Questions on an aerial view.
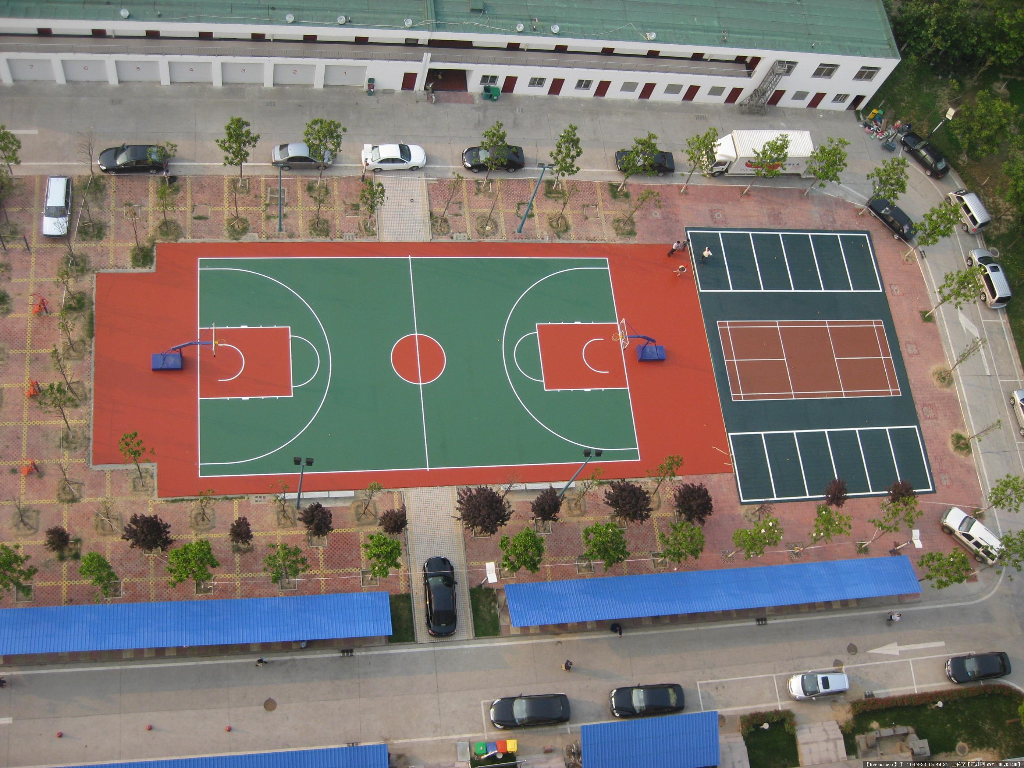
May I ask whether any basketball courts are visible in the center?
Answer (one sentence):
Yes, a basketball court appears in the center.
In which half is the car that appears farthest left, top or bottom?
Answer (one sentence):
The car that appears farthest left sits in the top half of the picture.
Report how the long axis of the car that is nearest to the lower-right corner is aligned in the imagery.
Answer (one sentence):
The car that is nearest to the lower-right corner runs from left to right in the image.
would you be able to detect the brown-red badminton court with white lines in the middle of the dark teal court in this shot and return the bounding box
[718,319,902,401]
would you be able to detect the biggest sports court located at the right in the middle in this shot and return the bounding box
[684,226,936,504]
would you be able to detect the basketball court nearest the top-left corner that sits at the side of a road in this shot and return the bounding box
[88,239,734,500]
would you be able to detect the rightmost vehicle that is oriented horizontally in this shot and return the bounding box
[943,650,1017,685]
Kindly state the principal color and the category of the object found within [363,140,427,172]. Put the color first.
white car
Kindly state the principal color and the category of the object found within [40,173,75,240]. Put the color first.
white car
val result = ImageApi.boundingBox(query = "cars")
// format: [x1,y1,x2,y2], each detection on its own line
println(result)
[40,173,75,240]
[363,140,427,172]
[422,556,460,640]
[864,193,921,245]
[898,126,955,180]
[941,503,1015,570]
[614,149,677,177]
[95,140,171,175]
[946,184,995,237]
[968,248,1018,310]
[1010,389,1024,440]
[486,692,571,731]
[270,142,335,170]
[785,668,855,703]
[943,650,1017,685]
[606,682,688,719]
